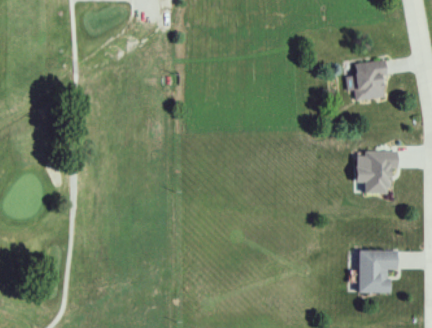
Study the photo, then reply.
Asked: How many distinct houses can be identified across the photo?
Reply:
3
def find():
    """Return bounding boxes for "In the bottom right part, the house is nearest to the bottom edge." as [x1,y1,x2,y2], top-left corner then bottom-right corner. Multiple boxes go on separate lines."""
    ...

[350,250,399,294]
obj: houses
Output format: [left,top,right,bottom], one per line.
[358,151,400,194]
[350,250,399,294]
[346,62,388,100]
